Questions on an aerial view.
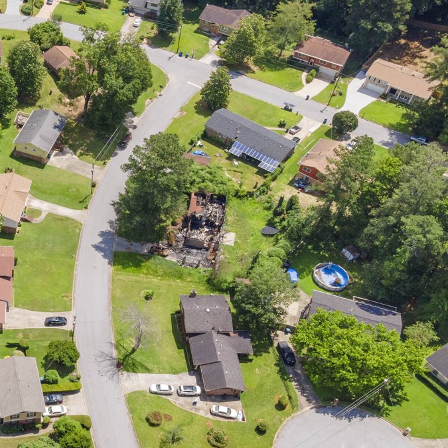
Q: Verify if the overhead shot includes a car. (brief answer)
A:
Yes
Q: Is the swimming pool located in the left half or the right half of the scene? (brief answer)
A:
right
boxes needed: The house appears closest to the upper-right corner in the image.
[361,59,441,106]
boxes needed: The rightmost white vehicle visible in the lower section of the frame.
[211,404,241,421]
